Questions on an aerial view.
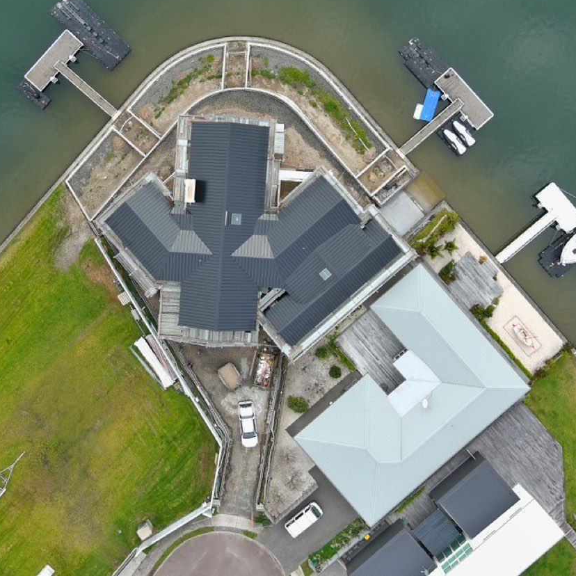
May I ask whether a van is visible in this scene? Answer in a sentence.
Yes, looking at the shot, I can spot a van.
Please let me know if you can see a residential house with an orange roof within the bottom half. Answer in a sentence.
No, there is no residential house with an orange roof within the bottom half.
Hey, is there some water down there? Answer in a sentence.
Yes, water can be seen from above here.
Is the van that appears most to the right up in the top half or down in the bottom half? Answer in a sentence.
The van that appears most to the right sits in the bottom half of the picture.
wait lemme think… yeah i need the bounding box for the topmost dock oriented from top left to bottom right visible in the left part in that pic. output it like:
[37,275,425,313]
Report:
[50,0,132,71]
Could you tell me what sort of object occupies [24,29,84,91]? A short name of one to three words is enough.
pier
